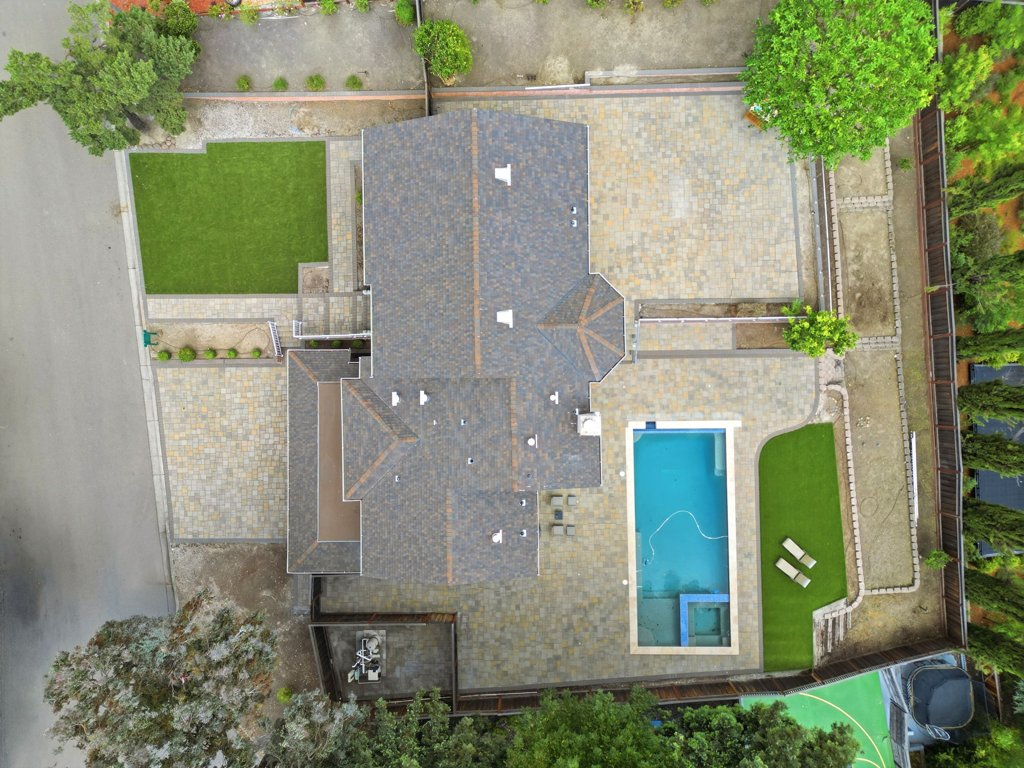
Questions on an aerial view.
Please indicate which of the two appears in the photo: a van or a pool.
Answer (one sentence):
There is a pool in the scene.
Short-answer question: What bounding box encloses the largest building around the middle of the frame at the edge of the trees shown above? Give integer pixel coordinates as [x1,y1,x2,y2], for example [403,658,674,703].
[284,110,629,585]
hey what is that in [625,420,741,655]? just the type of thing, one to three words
swimming pool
